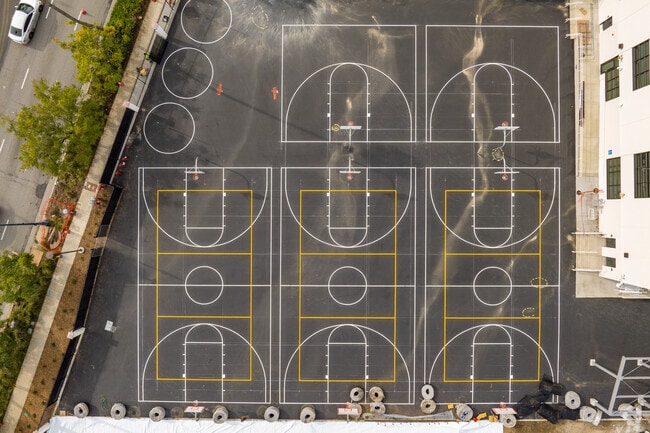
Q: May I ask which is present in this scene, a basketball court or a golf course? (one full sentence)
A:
This aerial view contains a basketball court.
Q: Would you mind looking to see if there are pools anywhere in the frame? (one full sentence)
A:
No, no pool is visible in the scene.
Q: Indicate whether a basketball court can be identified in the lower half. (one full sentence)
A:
Yes, a basketball court can be seen in the lower half.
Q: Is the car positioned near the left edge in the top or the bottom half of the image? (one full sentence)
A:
The top half of the photo is where the car positioned near the left edge is.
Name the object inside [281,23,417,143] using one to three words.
basketball court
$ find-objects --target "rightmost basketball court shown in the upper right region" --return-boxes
[426,23,560,143]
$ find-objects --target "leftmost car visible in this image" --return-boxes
[7,0,43,44]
